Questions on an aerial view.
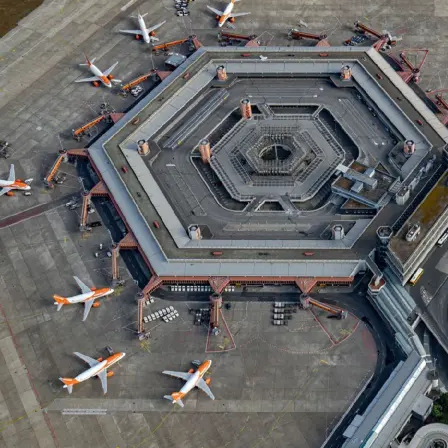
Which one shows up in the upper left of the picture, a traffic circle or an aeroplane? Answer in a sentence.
It is an aeroplane that can be seen in the upper left of the picture.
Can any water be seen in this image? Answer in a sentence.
No, there's no water in this view.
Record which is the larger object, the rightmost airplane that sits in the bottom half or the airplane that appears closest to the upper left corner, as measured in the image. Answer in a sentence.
The rightmost airplane that sits in the bottom half takes up more space than the airplane that appears closest to the upper left corner does.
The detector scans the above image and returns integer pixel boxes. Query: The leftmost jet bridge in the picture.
[44,147,91,184]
